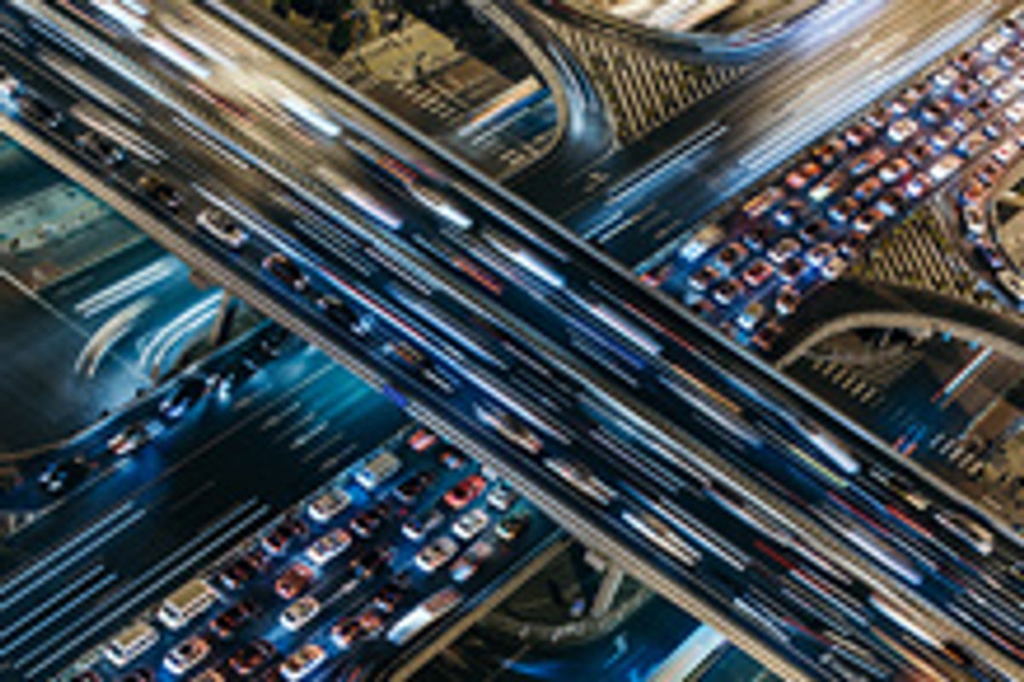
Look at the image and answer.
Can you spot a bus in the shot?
Yes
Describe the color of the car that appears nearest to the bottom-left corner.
black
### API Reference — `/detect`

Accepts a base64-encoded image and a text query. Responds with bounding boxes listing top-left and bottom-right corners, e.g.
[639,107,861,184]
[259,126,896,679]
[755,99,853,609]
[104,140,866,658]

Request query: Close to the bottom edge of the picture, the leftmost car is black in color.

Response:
[67,657,113,682]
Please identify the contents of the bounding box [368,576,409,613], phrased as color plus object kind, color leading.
black car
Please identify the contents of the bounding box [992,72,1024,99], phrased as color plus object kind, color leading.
white car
